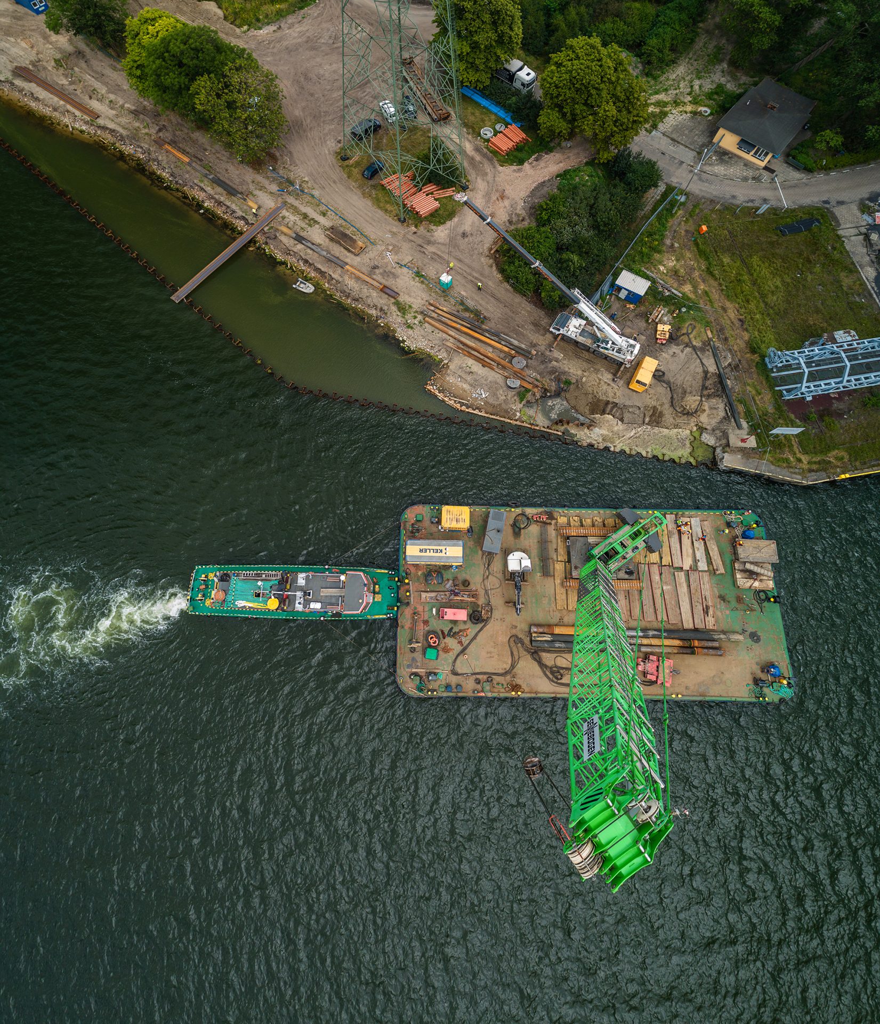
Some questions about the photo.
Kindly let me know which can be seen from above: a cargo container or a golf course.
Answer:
cargo container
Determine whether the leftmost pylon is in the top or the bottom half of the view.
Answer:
top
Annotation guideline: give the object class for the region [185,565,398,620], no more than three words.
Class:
boat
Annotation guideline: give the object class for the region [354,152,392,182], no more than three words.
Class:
car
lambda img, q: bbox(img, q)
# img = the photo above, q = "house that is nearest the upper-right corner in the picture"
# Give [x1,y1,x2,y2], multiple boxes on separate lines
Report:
[710,79,817,167]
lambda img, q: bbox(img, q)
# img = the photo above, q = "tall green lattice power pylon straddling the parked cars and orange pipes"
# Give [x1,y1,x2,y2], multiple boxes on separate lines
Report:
[335,0,472,227]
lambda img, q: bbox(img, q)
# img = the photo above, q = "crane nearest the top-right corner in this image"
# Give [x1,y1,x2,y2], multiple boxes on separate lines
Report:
[446,189,645,390]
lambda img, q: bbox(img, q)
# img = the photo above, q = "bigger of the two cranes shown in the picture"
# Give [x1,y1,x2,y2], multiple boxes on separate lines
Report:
[475,495,690,889]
